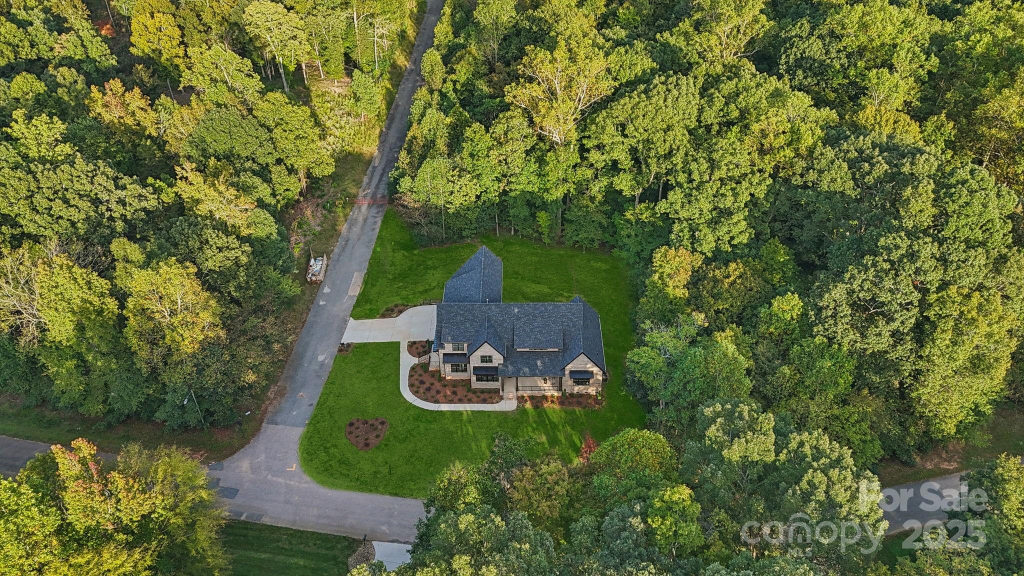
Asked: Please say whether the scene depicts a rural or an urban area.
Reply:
rural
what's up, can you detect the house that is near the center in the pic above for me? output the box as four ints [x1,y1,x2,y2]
[418,246,607,402]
